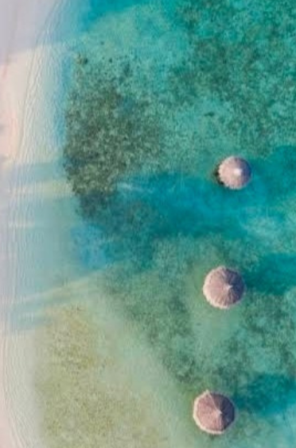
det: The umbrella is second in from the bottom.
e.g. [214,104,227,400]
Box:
[203,266,244,307]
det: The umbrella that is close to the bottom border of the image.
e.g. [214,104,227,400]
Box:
[191,391,233,432]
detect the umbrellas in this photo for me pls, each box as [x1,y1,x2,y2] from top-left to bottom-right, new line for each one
[191,391,233,432]
[203,266,244,307]
[214,155,249,190]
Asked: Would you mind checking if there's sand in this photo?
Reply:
Yes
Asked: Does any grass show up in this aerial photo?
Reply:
No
